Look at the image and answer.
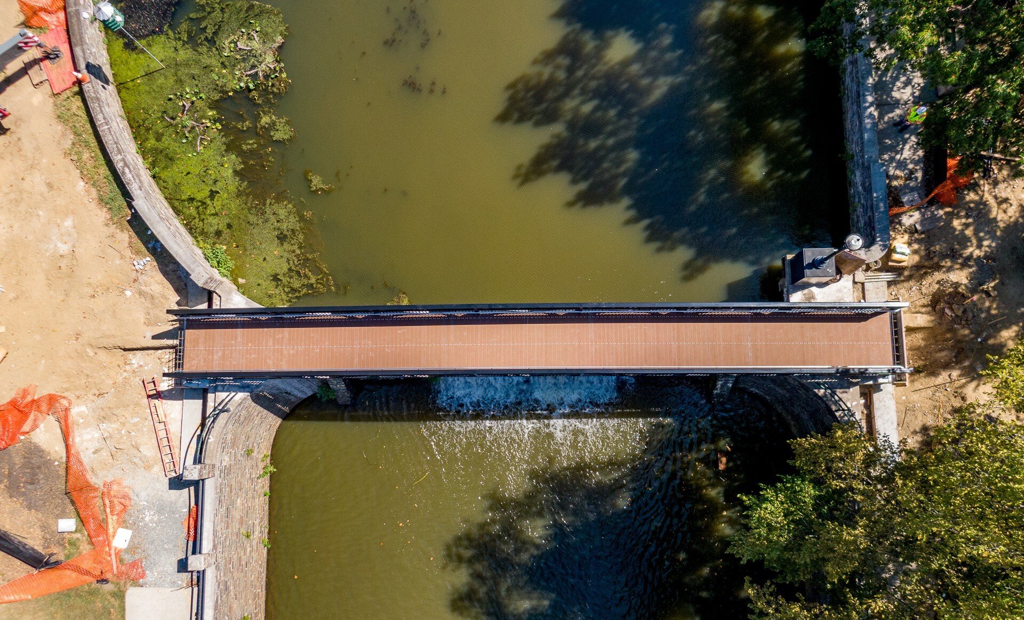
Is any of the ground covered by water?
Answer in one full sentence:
Yes, some water is visible.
